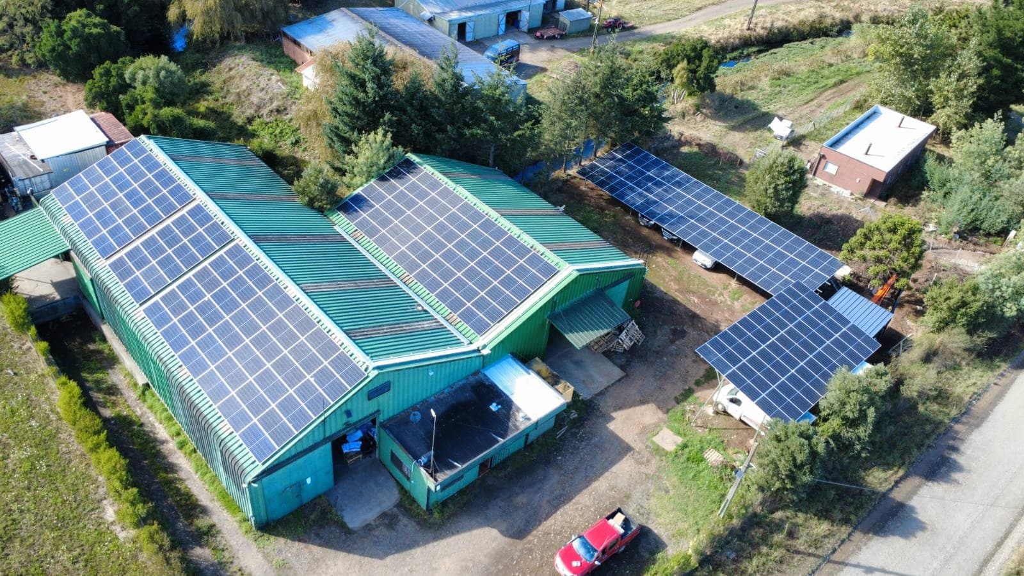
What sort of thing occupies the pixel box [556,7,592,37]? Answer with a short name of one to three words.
shed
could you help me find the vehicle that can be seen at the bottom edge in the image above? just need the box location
[552,503,649,576]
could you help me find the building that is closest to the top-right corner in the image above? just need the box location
[813,107,950,204]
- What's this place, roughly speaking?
industrial area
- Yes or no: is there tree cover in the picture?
Yes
